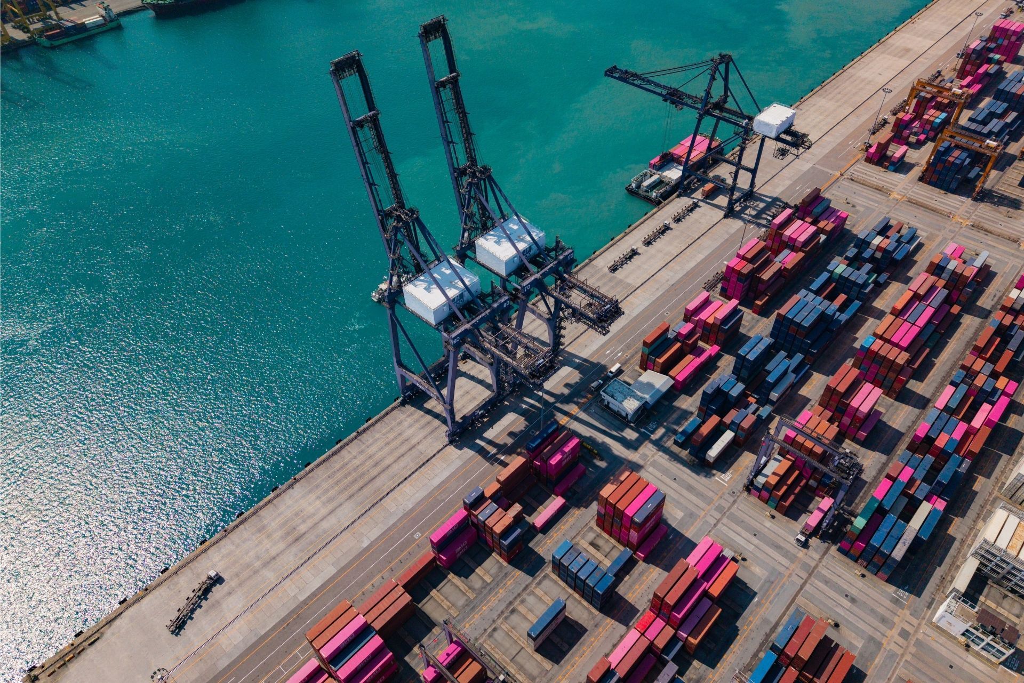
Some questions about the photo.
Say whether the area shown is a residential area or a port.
port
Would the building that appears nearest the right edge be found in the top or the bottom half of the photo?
bottom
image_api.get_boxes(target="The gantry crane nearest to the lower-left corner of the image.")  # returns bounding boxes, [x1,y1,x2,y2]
[408,609,523,683]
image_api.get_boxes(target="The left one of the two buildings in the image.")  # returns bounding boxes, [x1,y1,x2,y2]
[598,368,675,425]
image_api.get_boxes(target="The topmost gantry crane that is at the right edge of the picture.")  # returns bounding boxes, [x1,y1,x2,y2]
[893,73,974,143]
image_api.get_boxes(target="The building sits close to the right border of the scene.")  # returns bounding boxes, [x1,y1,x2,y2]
[930,588,1018,669]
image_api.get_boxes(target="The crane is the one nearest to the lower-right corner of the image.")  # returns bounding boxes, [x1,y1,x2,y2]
[741,409,871,540]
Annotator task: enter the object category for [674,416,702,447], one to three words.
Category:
shipping container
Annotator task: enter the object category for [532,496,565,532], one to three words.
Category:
shipping container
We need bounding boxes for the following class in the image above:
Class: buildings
[930,588,1018,669]
[598,368,675,425]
